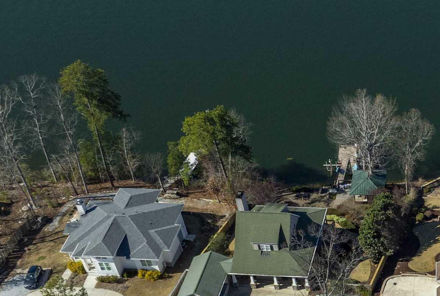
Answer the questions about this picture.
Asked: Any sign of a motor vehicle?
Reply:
Yes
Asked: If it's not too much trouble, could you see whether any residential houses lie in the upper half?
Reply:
No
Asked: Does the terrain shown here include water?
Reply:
Yes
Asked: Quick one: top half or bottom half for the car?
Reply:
bottom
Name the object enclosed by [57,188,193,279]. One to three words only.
house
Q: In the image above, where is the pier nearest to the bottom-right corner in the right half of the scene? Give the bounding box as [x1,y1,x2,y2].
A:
[331,141,362,185]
